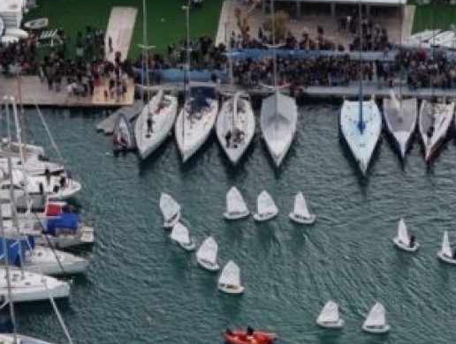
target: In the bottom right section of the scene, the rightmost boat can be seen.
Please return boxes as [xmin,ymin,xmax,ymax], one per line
[437,235,456,265]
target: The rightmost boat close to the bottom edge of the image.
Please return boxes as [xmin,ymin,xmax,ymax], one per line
[359,305,390,335]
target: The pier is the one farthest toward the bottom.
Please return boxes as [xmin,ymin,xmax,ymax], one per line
[97,107,140,138]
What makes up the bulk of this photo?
water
